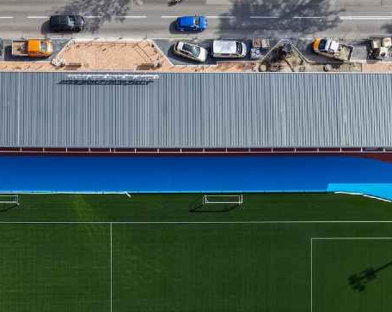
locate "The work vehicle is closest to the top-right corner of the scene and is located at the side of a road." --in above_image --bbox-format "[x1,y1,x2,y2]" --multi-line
[368,39,390,59]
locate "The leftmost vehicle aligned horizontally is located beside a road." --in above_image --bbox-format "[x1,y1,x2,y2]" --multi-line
[14,38,52,57]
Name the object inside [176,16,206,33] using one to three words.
car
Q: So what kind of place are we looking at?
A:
sports ground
